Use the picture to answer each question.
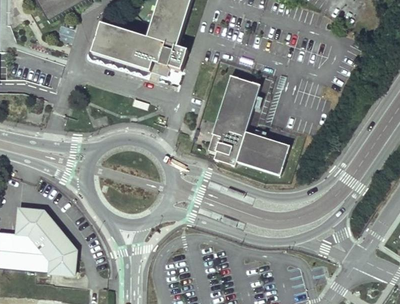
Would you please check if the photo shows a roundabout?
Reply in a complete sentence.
Yes, there's a roundabout down there.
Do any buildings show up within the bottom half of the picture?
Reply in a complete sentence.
Yes, the scene does show a building within the bottom half of the picture.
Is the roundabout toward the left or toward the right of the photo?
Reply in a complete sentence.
The roundabout sits on the left side.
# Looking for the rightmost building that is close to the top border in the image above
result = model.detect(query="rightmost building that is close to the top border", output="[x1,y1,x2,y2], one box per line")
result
[90,0,193,93]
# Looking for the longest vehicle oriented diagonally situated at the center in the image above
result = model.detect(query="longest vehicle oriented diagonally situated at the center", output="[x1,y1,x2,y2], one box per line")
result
[164,153,189,174]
